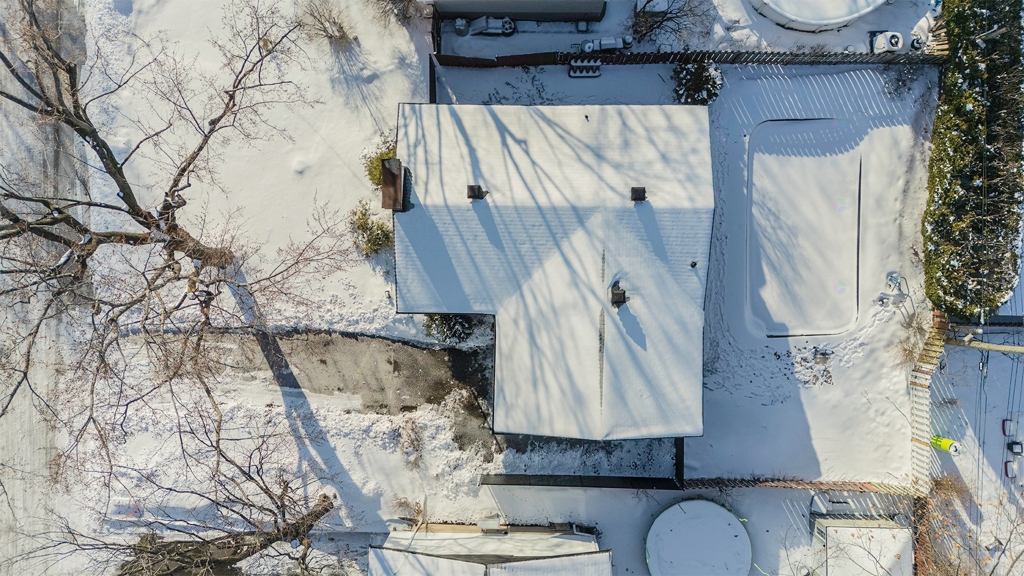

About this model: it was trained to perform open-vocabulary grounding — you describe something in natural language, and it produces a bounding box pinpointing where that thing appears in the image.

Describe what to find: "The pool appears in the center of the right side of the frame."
[739,118,867,349]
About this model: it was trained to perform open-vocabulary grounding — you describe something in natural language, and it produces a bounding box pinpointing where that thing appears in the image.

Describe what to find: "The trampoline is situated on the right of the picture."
[643,499,771,576]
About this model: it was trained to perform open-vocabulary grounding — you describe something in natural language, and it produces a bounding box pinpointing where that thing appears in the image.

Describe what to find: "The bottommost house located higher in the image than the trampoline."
[383,102,715,442]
